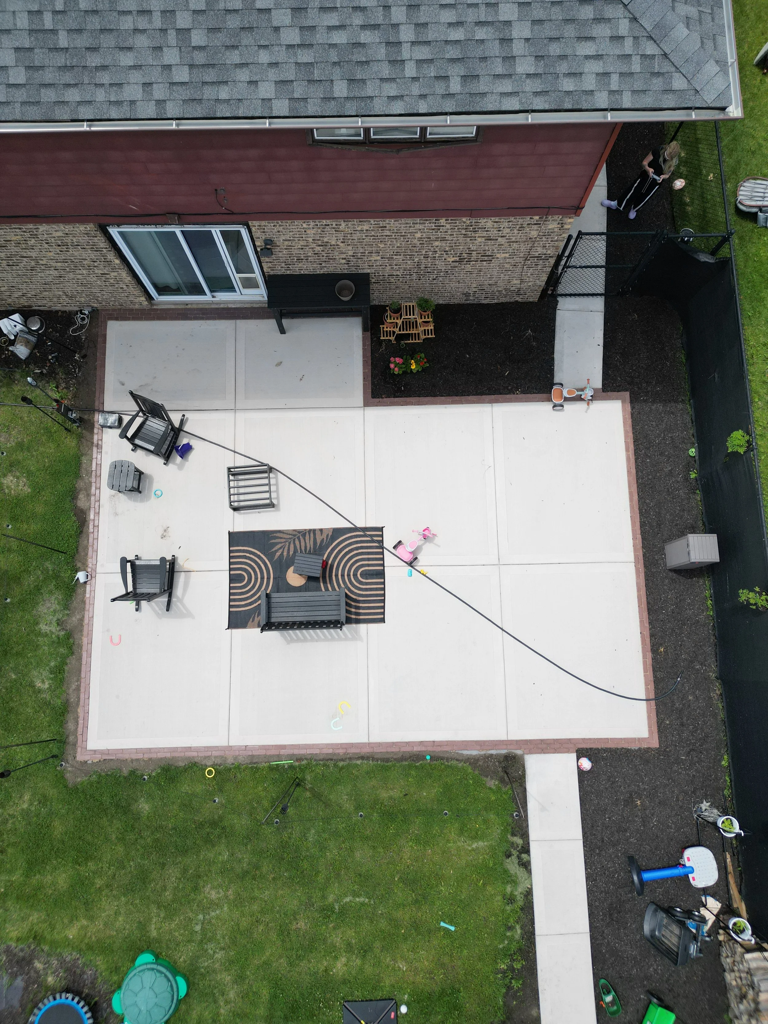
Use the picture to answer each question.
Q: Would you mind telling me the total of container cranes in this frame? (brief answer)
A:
none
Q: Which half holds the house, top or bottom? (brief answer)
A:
top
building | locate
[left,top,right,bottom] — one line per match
[0,0,745,314]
